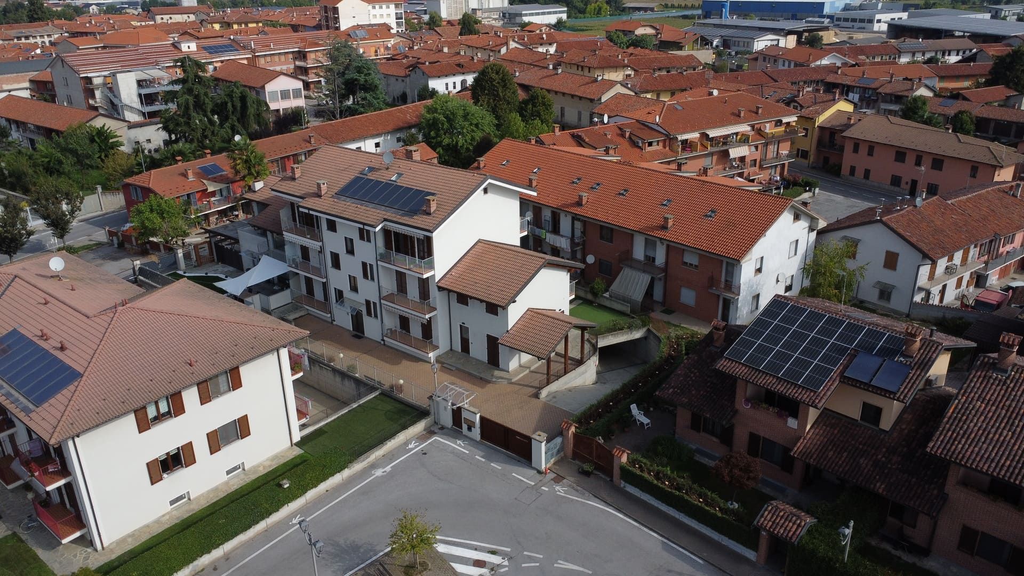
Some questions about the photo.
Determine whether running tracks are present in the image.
No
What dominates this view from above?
buildings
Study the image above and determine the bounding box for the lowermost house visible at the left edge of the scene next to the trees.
[0,233,313,551]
